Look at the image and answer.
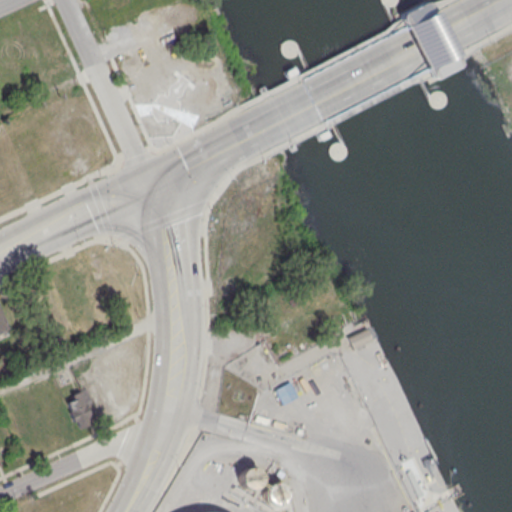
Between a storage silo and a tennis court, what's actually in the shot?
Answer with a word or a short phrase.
storage silo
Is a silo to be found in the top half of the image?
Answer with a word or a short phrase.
No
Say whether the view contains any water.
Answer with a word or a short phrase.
Yes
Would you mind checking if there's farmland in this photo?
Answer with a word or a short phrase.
No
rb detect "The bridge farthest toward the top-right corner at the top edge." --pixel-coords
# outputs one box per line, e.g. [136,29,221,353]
[243,0,468,158]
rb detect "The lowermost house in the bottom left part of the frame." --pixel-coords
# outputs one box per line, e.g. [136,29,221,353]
[65,388,96,426]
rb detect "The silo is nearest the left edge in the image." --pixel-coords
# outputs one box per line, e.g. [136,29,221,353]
[242,466,268,490]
